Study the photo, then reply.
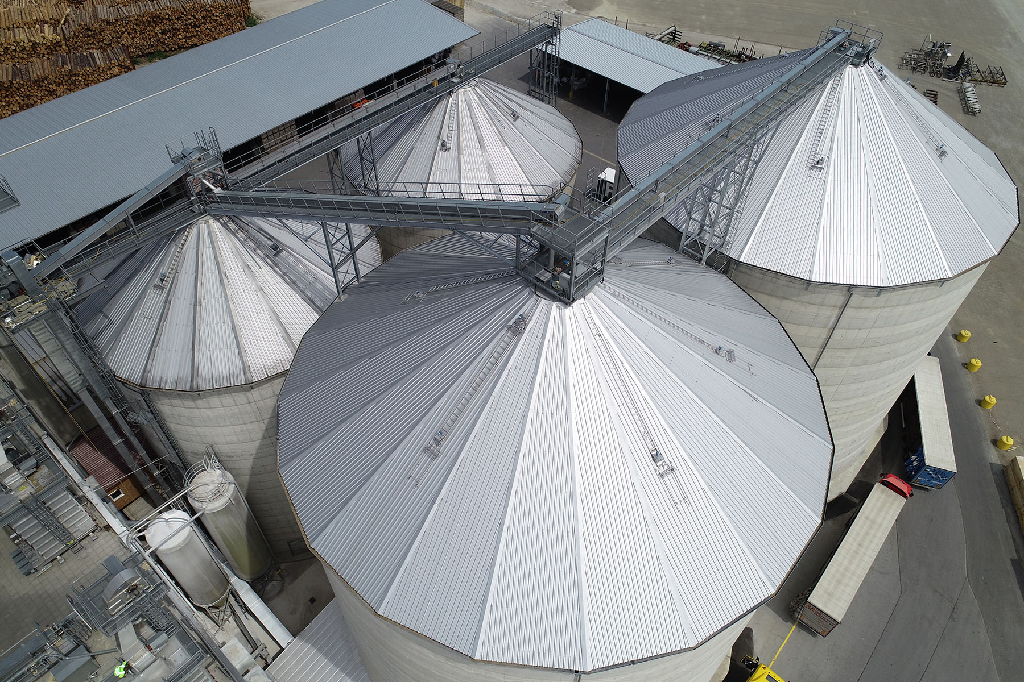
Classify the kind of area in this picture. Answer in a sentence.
It's an industrial area.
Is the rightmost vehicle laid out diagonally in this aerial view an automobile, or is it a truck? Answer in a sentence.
The rightmost vehicle laid out diagonally can be classified as a truck.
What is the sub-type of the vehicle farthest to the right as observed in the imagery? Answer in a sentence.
The vehicle farthest to the right is a truck.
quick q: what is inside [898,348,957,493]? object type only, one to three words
truck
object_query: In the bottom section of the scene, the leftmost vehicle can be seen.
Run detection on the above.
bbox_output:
[749,655,782,682]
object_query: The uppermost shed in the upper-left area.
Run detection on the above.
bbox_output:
[0,0,481,254]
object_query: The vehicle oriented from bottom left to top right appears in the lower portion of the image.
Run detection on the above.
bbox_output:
[785,467,916,639]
